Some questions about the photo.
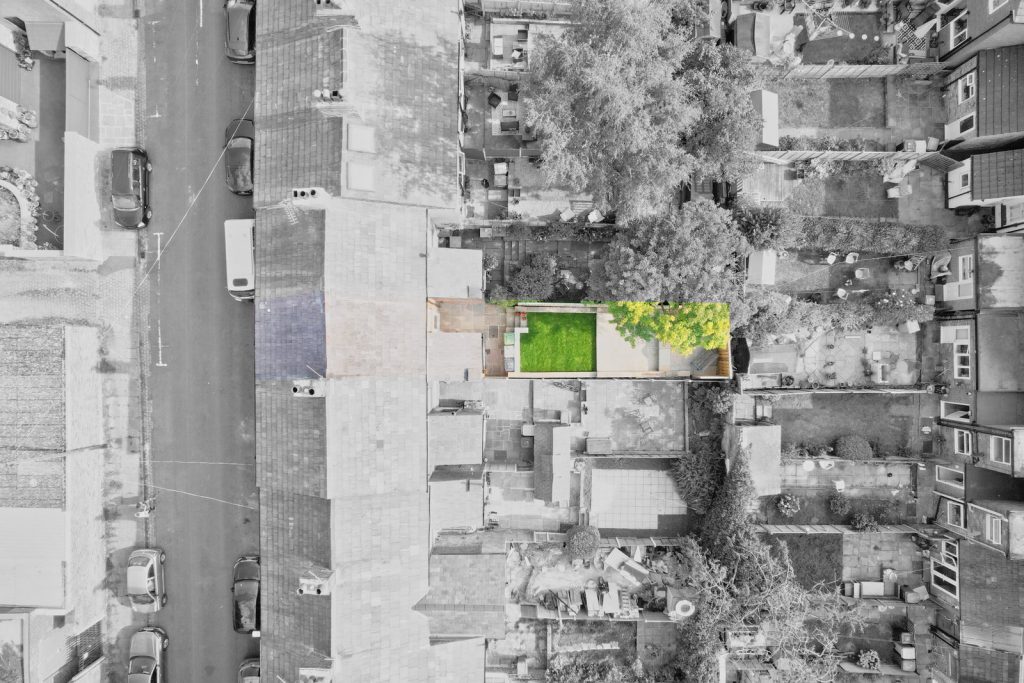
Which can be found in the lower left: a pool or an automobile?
automobile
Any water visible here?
No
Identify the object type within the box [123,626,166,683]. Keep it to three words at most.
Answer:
car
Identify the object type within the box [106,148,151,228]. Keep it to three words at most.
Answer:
car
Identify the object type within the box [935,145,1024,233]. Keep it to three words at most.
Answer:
house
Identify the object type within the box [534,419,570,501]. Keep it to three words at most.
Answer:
shed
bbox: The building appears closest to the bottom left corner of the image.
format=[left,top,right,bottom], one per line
[33,591,102,683]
